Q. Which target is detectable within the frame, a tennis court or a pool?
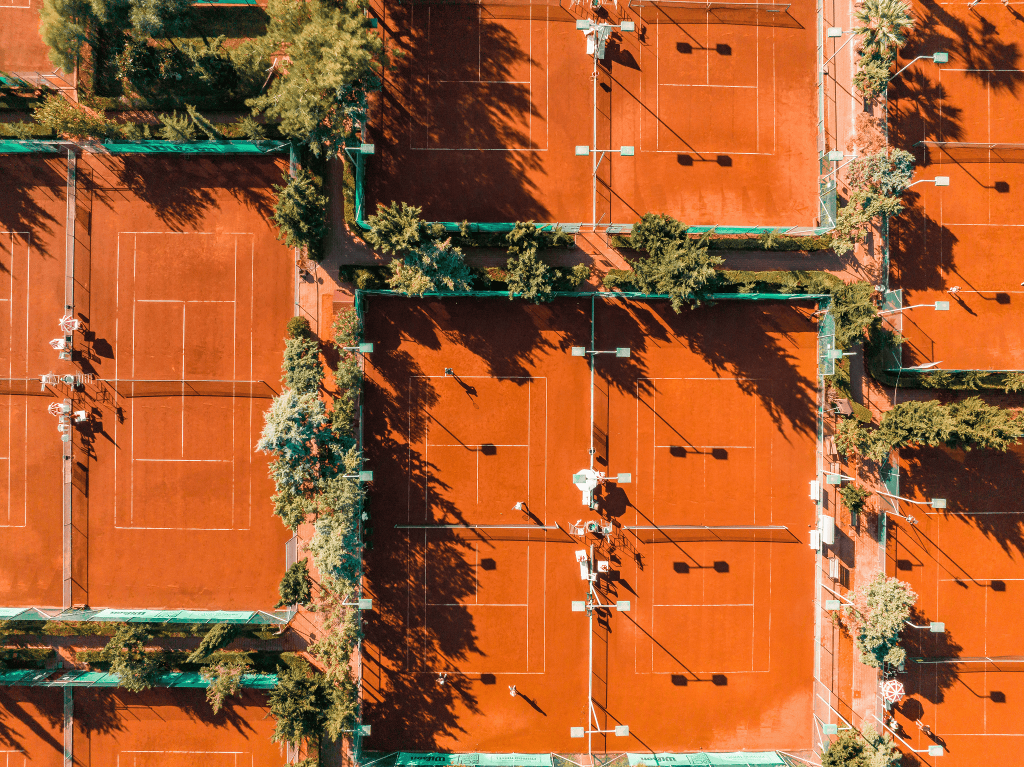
tennis court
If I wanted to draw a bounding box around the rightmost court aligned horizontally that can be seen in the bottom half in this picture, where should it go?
[72,672,297,767]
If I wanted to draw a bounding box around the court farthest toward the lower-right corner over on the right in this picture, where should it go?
[877,436,1024,767]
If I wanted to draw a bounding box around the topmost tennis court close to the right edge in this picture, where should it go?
[881,0,1024,371]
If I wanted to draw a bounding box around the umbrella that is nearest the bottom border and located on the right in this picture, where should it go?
[876,676,902,700]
